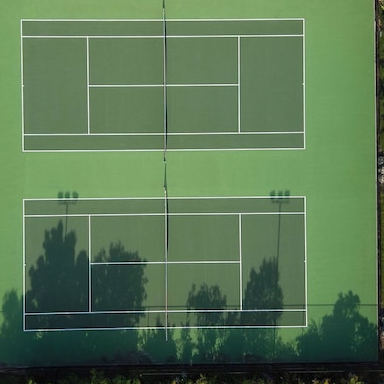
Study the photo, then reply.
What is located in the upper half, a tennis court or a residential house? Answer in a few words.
tennis court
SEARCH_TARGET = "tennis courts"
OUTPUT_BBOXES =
[23,196,307,330]
[22,18,306,151]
